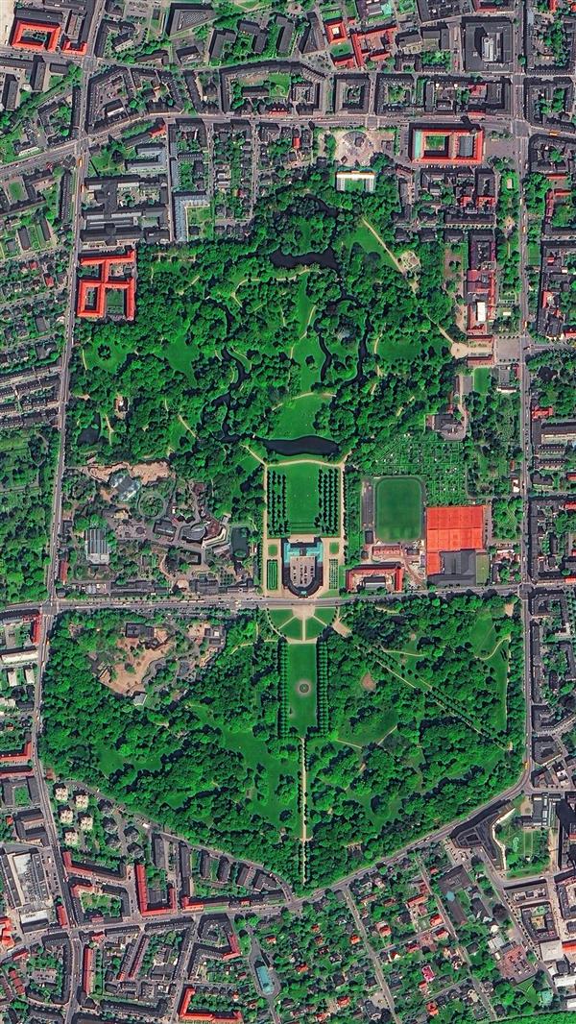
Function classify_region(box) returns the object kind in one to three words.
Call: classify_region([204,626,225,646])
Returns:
house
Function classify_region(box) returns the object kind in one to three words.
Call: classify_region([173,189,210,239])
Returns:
building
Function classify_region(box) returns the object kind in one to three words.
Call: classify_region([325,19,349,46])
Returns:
building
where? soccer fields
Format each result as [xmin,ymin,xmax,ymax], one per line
[373,476,425,546]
